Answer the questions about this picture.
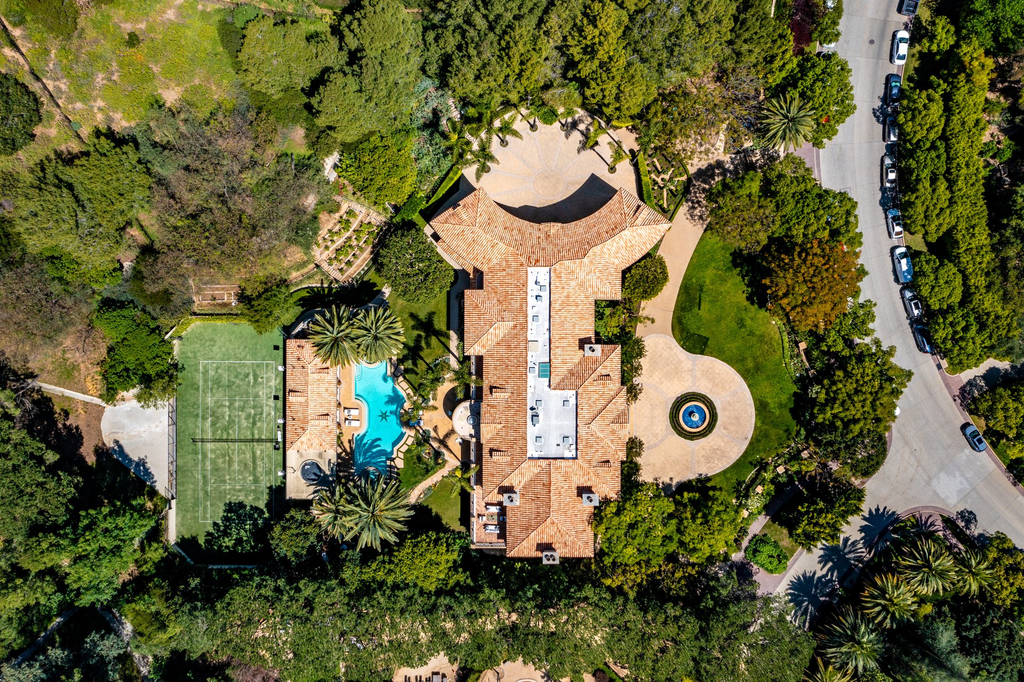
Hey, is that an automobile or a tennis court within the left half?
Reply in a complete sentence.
There is a tennis court within the left half.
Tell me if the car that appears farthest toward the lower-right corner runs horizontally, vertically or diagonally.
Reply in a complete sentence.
From this overhead view, the car that appears farthest toward the lower-right corner appears to run diagonally.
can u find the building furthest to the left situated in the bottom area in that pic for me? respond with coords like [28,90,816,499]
[285,338,341,499]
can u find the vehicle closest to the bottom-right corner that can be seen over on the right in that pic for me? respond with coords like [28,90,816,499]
[960,421,987,453]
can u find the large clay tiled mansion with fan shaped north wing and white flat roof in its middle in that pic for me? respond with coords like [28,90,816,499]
[429,186,672,564]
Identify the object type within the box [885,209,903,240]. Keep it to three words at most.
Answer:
car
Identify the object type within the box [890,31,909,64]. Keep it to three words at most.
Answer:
car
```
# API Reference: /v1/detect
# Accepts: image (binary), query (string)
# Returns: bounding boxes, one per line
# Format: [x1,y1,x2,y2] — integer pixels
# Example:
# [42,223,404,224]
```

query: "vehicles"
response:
[960,421,987,453]
[885,402,900,424]
[885,209,903,240]
[819,38,833,51]
[890,31,909,64]
[896,0,914,18]
[884,74,902,107]
[882,113,900,146]
[892,246,913,284]
[901,287,923,319]
[880,156,897,188]
[911,321,933,354]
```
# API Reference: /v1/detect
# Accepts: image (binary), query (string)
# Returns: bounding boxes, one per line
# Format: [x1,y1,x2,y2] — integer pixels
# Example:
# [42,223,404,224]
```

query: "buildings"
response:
[429,186,672,564]
[285,338,341,499]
